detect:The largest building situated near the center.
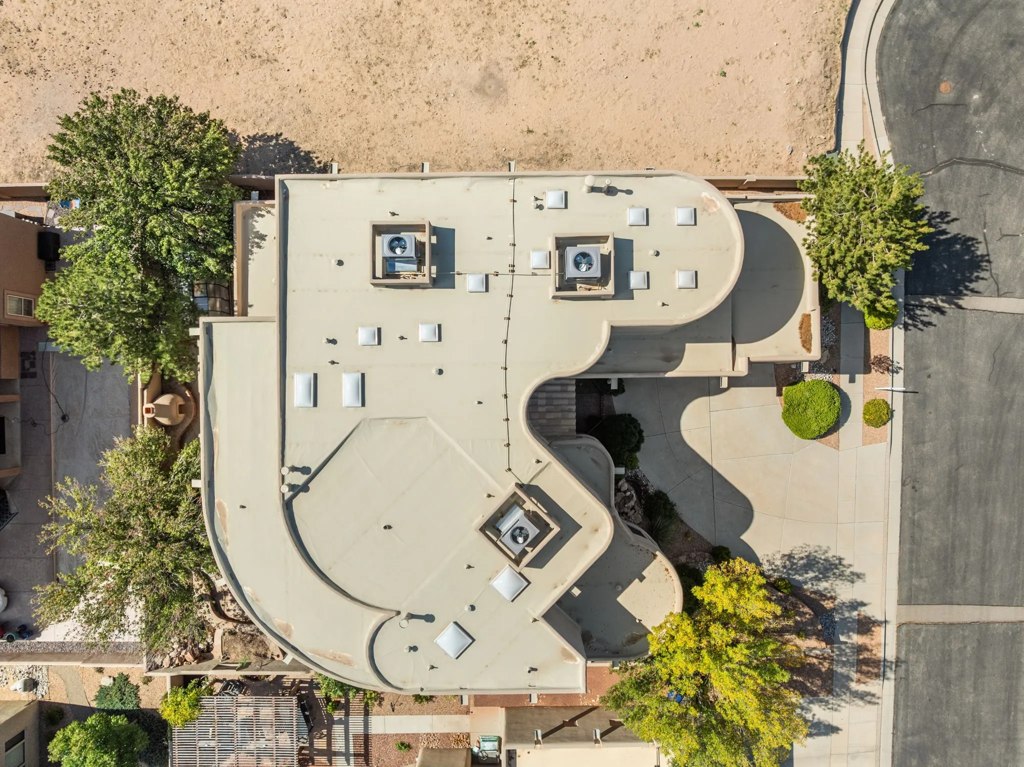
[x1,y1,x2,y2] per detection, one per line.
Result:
[188,159,820,706]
